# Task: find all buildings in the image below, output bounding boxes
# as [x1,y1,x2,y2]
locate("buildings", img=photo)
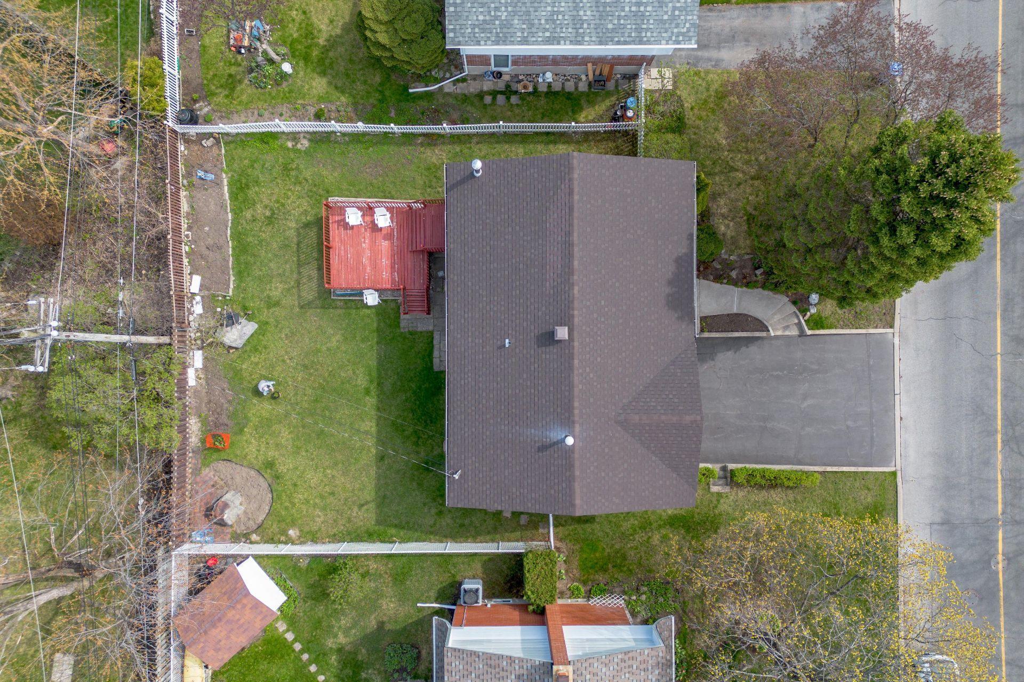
[418,599,677,682]
[172,555,290,670]
[444,153,704,516]
[409,0,701,92]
